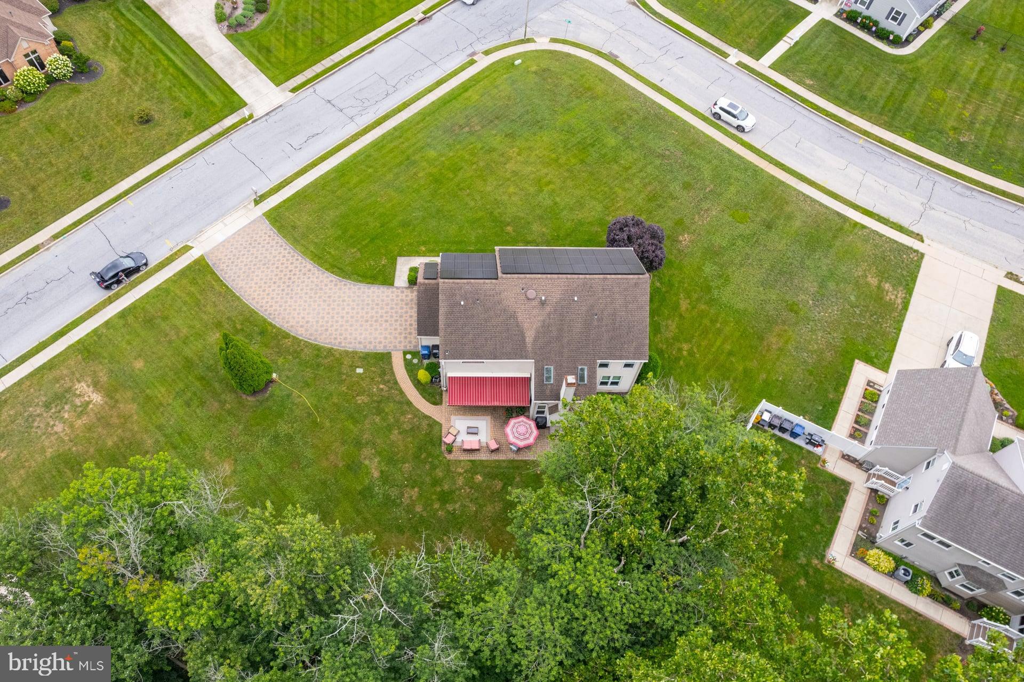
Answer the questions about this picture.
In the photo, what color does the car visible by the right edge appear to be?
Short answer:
white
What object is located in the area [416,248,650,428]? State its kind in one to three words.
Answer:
house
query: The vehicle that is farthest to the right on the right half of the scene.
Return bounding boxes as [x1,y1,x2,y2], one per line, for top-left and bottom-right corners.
[939,328,978,369]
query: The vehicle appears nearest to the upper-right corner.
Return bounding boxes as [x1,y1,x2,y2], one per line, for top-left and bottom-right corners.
[711,95,759,133]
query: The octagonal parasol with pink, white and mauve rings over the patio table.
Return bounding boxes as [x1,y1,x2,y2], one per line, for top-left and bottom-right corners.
[505,415,539,447]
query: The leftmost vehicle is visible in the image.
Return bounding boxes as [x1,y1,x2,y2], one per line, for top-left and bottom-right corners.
[85,250,150,292]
